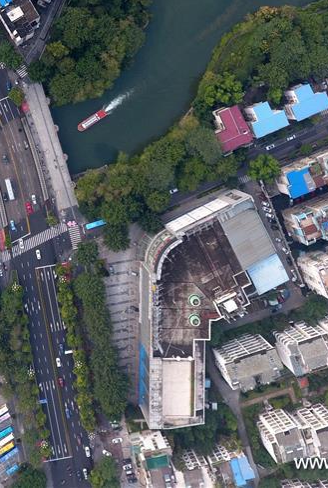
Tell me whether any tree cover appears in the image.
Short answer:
Yes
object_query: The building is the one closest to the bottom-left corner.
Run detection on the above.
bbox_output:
[133,423,175,488]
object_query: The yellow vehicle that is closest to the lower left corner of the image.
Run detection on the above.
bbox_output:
[0,441,16,456]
